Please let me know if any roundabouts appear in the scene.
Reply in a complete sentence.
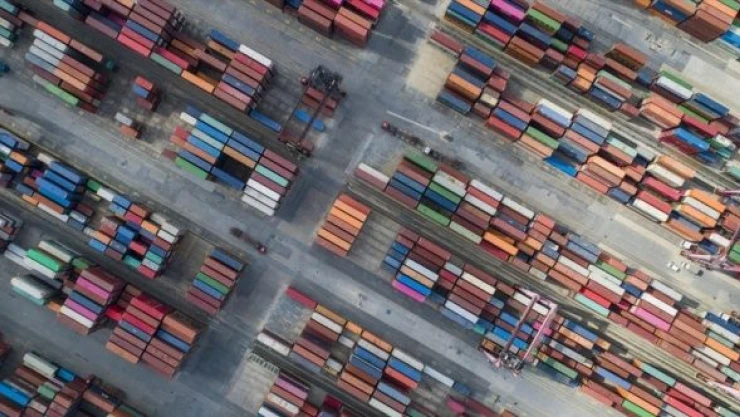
No, the picture doesn't show any roundabout.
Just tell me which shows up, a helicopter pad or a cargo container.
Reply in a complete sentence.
The image shows a cargo container.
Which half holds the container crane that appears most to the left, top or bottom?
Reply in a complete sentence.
The container crane that appears most to the left sits in the top half of the picture.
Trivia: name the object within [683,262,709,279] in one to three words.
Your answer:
vehicle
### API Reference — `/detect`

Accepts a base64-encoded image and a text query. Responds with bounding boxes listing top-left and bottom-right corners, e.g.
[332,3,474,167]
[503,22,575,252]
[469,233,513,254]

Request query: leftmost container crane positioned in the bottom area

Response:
[486,283,561,377]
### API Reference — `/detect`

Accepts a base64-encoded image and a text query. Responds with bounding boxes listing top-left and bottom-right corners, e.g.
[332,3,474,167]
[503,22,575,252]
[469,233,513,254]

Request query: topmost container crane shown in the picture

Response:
[278,58,348,156]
